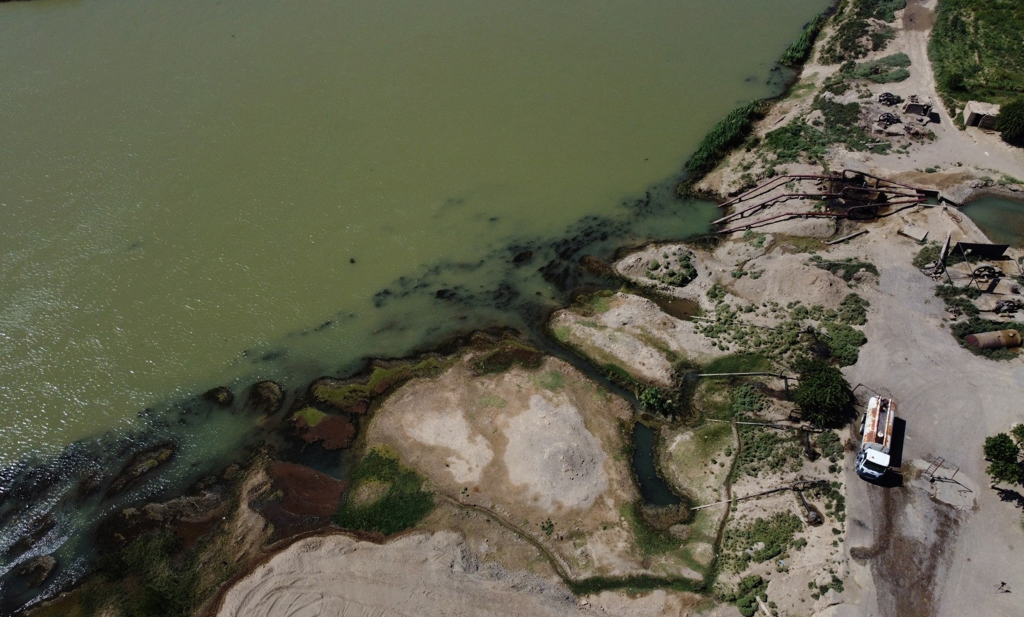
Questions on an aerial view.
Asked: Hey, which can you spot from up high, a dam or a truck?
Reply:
truck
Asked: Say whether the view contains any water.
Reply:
Yes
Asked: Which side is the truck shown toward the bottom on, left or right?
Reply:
right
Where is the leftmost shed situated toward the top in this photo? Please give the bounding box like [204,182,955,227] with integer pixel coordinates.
[902,93,936,117]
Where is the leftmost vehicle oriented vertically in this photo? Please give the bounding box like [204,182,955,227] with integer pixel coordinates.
[855,395,896,485]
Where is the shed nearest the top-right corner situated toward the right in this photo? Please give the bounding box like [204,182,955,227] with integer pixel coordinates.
[964,98,1014,131]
